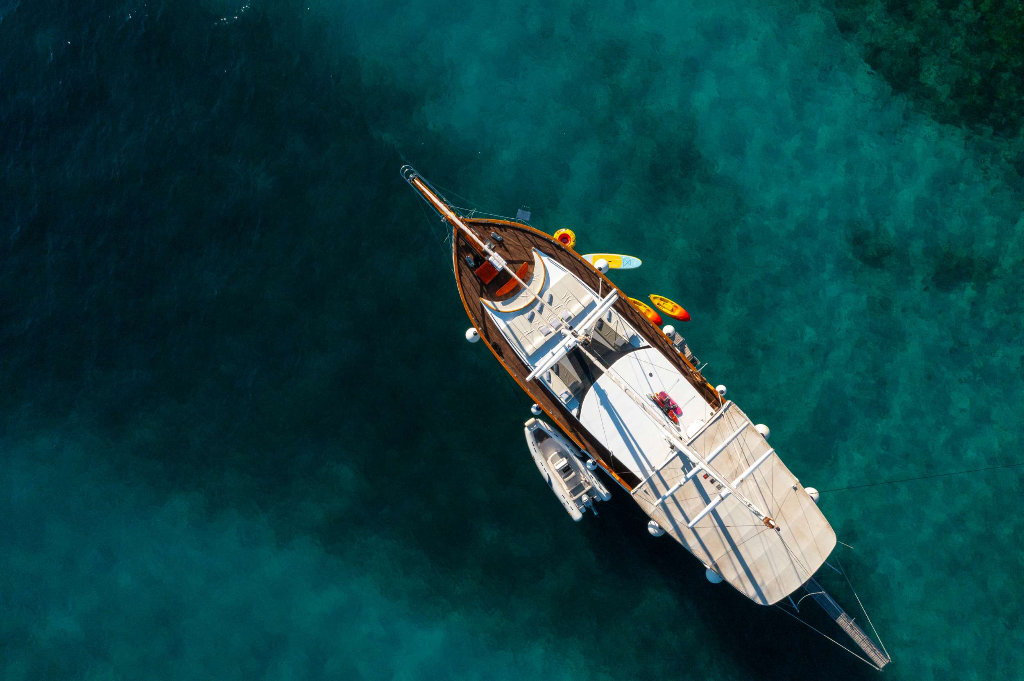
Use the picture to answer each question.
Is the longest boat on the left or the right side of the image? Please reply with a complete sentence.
The longest boat is on the right side of the image.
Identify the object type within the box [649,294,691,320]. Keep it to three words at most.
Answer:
boat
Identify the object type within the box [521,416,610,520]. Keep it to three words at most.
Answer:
boat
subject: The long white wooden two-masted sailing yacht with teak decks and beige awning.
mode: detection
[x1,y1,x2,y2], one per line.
[401,162,1022,670]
